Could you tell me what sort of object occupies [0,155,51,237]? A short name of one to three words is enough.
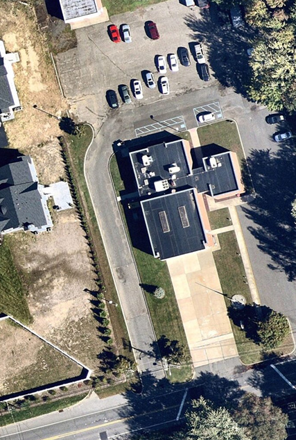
house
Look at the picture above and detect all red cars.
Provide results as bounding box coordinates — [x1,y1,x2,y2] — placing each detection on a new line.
[108,24,120,43]
[147,21,158,40]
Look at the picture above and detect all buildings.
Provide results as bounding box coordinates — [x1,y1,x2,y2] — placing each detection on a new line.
[60,0,102,23]
[0,155,51,237]
[129,141,243,258]
[0,40,18,111]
